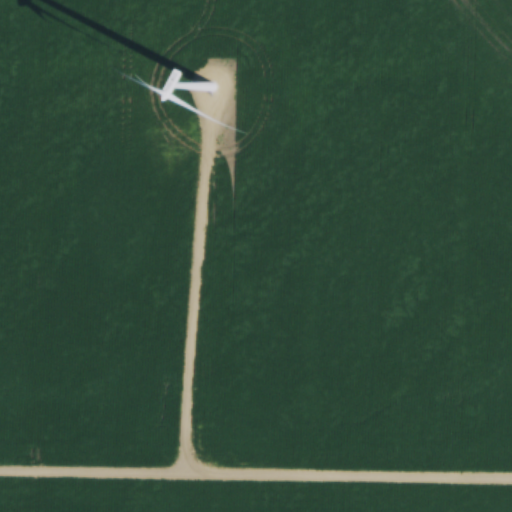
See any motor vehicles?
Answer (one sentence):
No, no motor vehicle is visible in the scene.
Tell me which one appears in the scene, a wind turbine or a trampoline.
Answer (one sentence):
Visible in the photo is a wind turbine.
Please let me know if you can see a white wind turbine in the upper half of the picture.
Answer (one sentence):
Yes, looking in the upper half of the picture, one can make out a white wind turbine.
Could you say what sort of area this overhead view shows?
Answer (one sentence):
The area seen from above is farmland.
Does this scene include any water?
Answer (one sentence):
No, there is no water in the image.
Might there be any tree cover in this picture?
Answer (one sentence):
No, the picture contains no tree cover.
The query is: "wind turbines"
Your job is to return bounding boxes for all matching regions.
[118,68,242,134]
